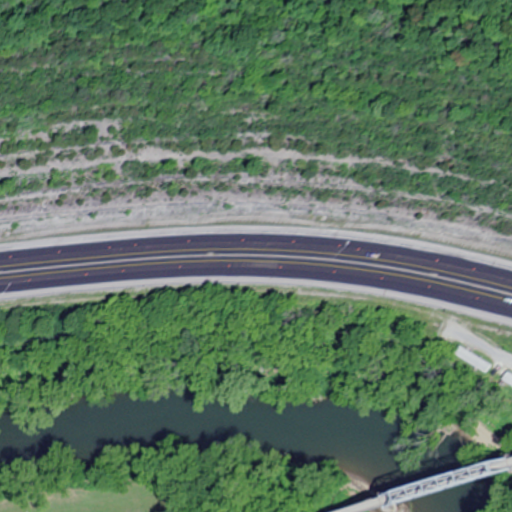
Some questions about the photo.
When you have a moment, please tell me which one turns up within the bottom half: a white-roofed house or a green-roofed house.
white-roofed house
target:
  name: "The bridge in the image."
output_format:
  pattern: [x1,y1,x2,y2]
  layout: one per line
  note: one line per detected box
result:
[322,453,512,512]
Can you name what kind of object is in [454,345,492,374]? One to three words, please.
house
